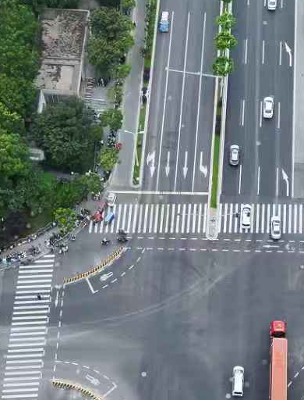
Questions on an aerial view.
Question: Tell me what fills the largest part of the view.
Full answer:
For the most part, this view shows paved ground.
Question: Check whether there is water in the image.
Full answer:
No, the picture contains no water.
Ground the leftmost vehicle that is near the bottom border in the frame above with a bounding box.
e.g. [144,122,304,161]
[232,366,246,398]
